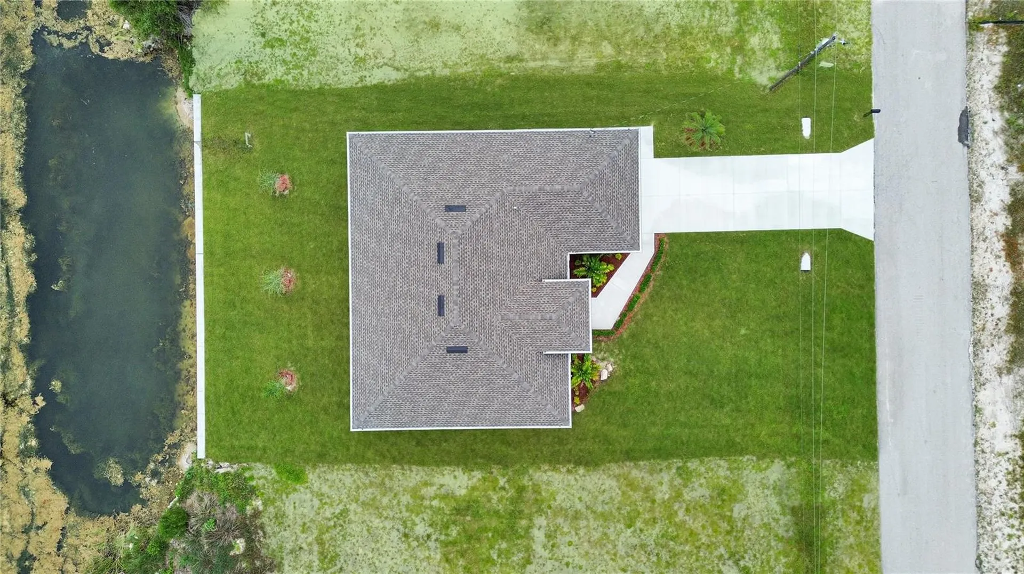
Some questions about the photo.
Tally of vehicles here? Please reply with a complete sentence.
I count no vehicles.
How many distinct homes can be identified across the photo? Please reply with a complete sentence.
Just 1 home appears in this view.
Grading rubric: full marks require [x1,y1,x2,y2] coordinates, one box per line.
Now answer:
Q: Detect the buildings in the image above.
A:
[347,126,641,431]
